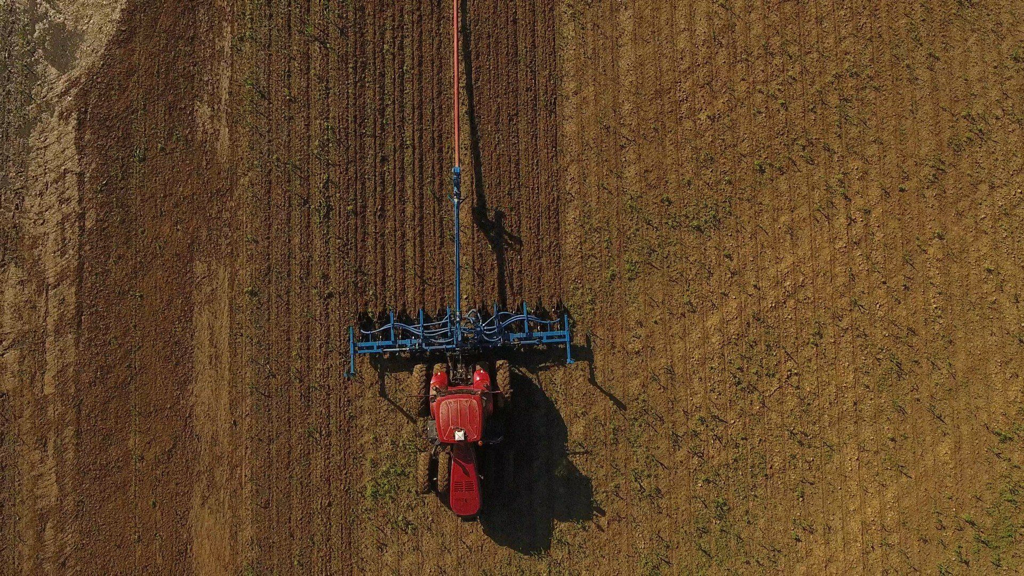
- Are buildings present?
No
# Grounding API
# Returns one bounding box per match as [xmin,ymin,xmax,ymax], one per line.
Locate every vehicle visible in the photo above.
[413,350,512,521]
